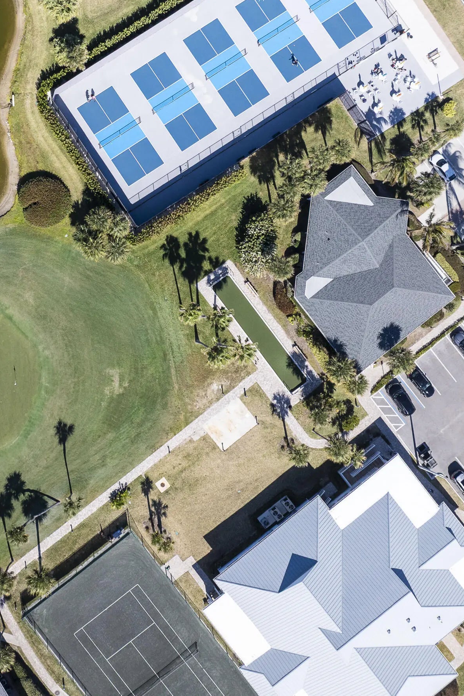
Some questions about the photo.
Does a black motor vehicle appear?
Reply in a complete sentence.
Yes, the picture does show a black motor vehicle.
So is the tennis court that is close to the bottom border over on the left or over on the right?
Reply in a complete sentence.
The tennis court that is close to the bottom border is on the left side of the image.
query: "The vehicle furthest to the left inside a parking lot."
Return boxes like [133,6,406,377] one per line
[386,381,416,416]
